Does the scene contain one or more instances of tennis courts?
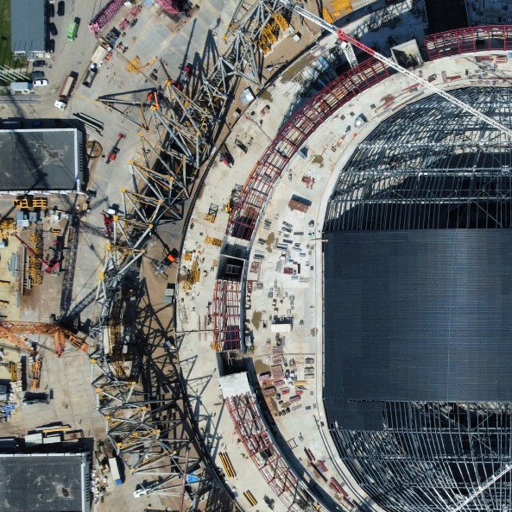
No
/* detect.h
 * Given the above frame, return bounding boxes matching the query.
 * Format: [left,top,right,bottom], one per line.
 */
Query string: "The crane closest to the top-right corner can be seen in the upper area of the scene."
[274,0,512,137]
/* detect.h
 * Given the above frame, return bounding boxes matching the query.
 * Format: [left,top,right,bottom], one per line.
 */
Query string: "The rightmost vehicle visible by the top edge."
[99,25,119,46]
